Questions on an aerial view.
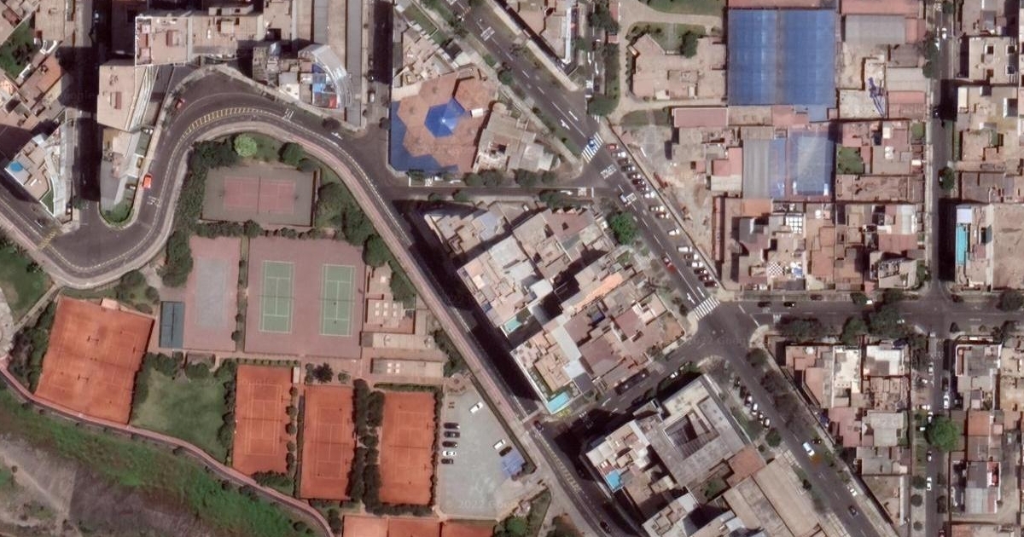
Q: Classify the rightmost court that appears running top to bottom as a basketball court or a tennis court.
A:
tennis court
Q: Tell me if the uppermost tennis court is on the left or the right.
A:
left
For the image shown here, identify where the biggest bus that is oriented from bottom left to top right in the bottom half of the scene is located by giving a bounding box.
[616,370,648,393]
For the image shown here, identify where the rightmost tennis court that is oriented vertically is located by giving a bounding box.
[378,392,434,504]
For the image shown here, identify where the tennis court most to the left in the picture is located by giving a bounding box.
[35,296,107,410]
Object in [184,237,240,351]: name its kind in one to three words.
sports court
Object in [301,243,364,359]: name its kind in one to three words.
tennis court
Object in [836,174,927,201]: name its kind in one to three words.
house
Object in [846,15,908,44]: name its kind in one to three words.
building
